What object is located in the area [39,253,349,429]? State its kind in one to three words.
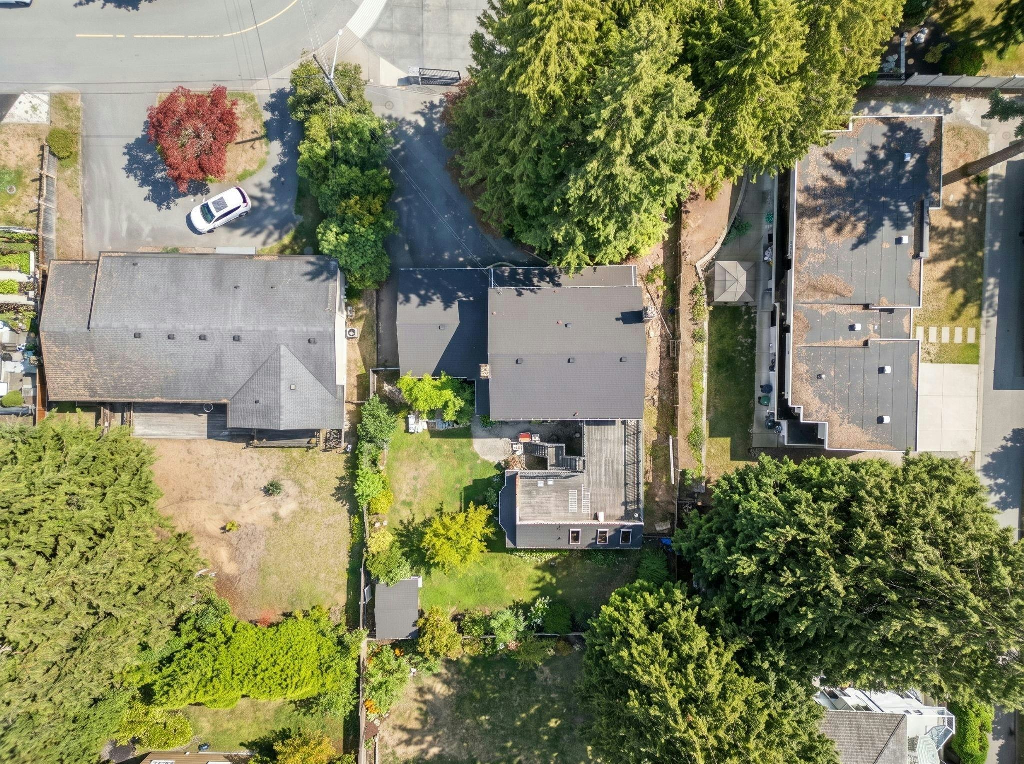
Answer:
house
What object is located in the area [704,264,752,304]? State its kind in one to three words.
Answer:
gazebo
